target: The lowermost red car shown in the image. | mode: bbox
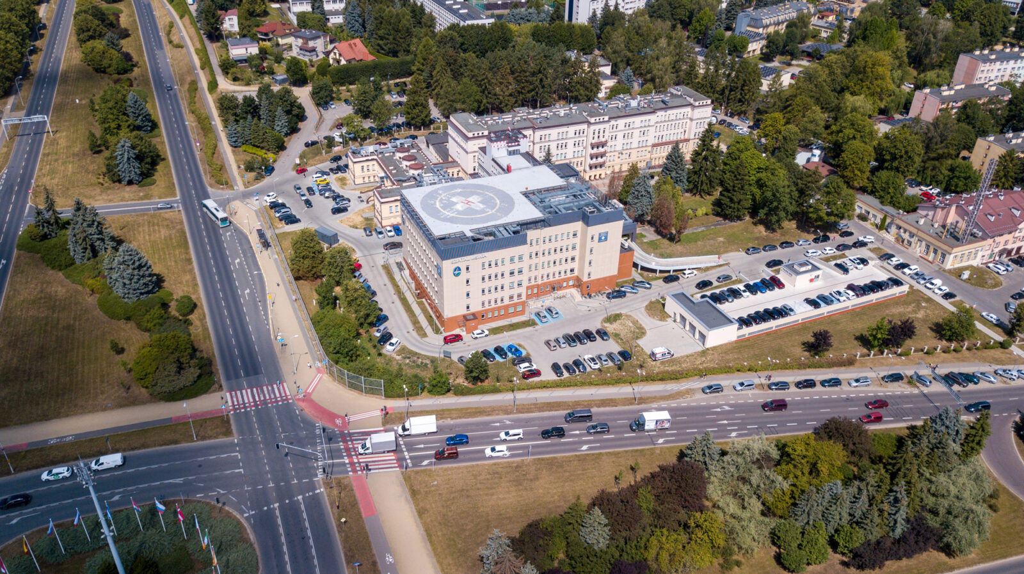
[434,446,460,461]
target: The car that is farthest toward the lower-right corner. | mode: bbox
[964,400,991,413]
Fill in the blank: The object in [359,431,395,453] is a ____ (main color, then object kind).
white truck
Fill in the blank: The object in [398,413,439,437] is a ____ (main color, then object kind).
white truck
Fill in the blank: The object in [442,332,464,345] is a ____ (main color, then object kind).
red vehicle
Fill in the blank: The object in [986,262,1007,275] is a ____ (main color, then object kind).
white vehicle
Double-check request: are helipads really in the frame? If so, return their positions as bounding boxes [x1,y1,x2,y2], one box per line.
[398,151,573,240]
